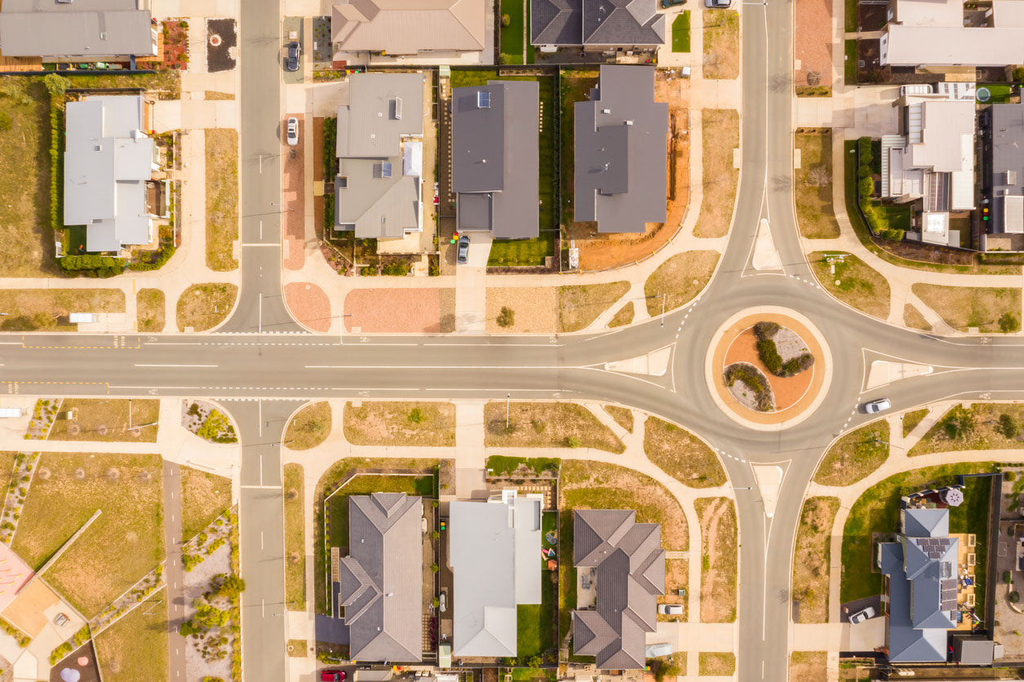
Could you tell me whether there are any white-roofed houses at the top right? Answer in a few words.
Yes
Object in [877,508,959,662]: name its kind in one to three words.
house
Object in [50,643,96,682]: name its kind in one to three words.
playground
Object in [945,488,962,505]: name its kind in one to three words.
umbrella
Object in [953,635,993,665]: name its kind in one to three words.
shed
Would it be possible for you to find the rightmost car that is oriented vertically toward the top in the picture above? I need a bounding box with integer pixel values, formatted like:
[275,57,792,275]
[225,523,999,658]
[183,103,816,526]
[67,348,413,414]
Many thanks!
[456,236,469,264]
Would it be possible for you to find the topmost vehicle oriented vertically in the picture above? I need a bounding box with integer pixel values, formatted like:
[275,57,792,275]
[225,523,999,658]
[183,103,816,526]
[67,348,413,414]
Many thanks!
[287,40,301,71]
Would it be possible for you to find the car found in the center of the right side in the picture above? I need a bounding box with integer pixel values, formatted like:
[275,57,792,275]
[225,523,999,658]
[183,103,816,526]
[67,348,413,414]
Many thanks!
[863,399,892,414]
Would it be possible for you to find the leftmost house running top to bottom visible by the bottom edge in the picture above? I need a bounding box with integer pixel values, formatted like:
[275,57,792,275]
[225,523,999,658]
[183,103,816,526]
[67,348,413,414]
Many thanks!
[340,492,422,662]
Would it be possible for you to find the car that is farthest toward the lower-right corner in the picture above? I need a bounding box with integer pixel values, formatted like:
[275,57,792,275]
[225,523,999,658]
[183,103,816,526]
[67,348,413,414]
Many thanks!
[847,606,875,625]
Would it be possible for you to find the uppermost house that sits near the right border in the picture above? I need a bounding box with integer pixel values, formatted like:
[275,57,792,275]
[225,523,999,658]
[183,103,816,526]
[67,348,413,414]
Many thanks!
[871,0,1024,74]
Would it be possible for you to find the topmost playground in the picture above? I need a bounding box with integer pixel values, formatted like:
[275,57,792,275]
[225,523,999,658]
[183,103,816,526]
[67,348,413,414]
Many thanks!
[0,544,32,605]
